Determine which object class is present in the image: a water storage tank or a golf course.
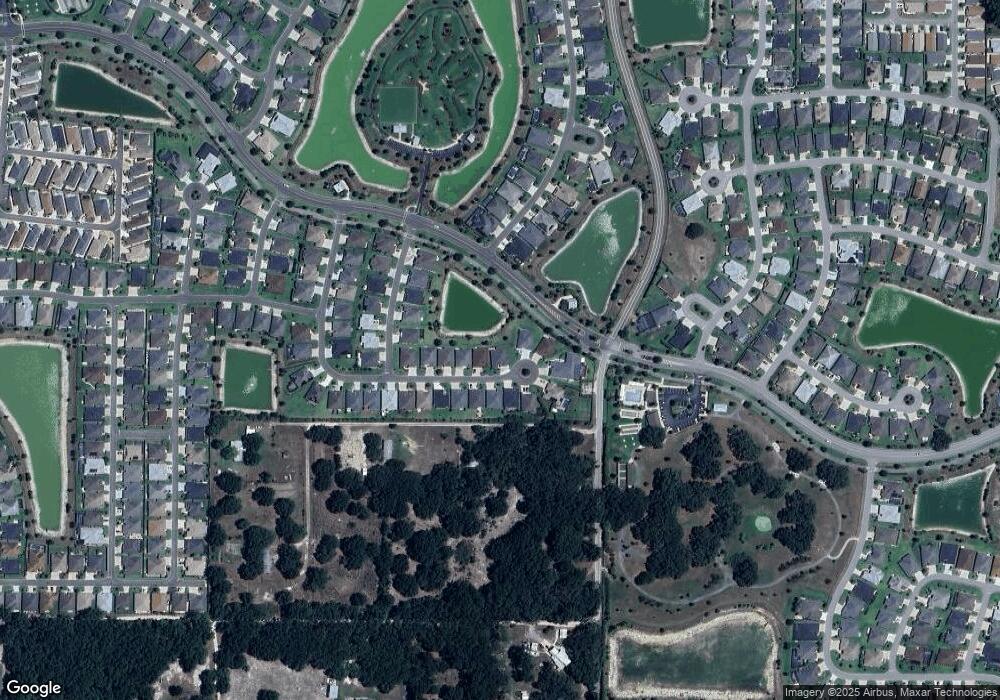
golf course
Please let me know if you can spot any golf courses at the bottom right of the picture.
No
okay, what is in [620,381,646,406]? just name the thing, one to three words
swimming pool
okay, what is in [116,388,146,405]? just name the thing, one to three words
house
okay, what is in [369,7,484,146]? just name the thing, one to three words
golf course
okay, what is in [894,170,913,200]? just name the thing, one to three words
house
